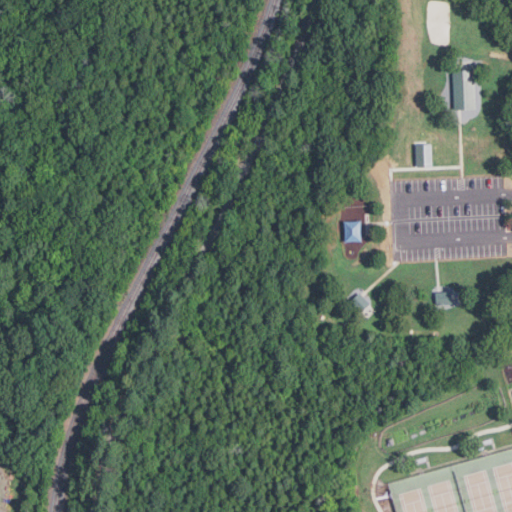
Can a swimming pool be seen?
No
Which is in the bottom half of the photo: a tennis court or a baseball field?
tennis court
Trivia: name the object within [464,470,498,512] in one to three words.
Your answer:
tennis court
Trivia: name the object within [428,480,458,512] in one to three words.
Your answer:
tennis court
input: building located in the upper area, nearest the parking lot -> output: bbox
[416,144,432,168]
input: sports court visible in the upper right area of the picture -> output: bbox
[427,0,450,47]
